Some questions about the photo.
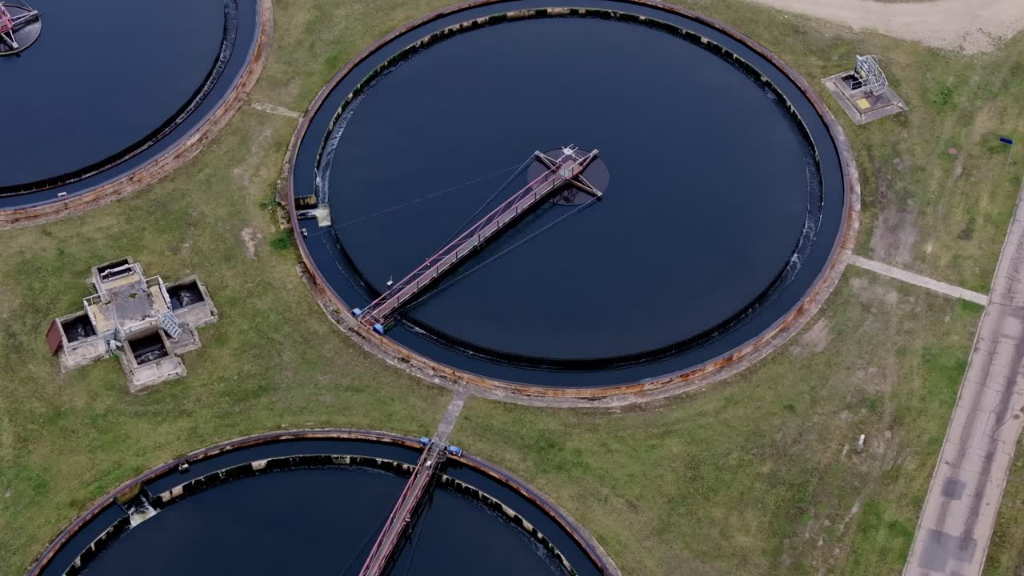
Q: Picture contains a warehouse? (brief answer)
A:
No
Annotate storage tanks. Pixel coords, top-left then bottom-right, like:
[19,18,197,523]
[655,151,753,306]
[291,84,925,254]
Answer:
[276,0,861,408]
[21,427,622,576]
[0,0,276,228]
